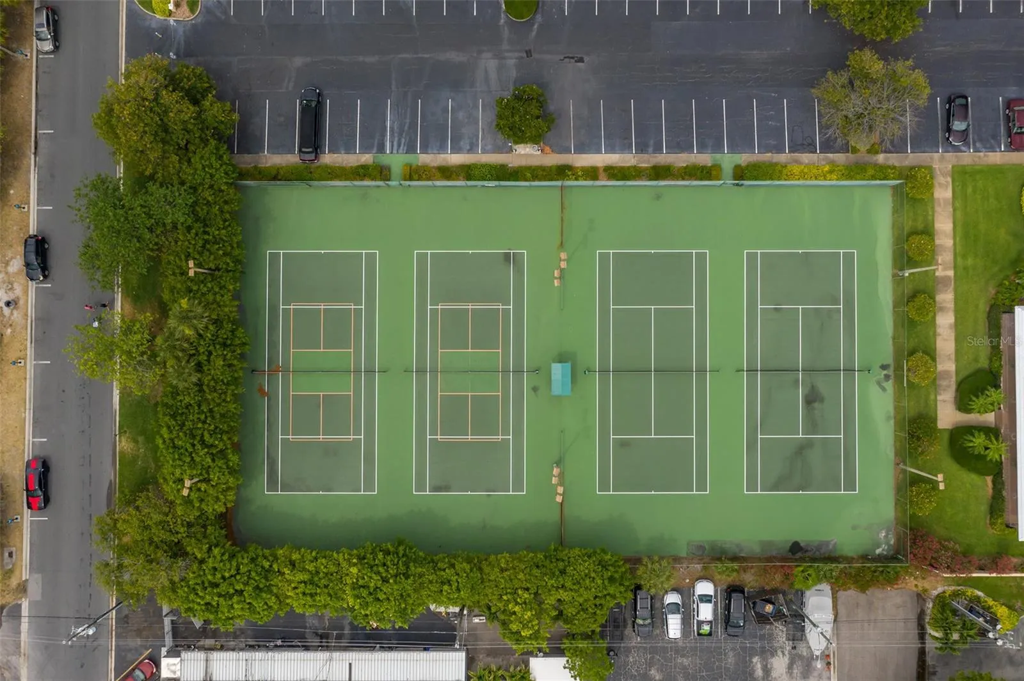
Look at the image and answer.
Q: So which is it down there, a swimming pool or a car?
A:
car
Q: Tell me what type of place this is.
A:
sports ground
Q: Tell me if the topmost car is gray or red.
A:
gray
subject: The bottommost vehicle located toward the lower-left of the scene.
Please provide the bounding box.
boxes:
[123,661,157,681]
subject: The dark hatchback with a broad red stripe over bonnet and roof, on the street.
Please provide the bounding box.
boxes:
[25,459,52,508]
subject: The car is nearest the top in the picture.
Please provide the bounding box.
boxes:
[34,5,61,53]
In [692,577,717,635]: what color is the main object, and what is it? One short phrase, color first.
white truck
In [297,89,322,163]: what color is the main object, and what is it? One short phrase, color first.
black vehicle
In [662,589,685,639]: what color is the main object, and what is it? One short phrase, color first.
white car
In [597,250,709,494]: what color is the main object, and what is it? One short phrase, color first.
green tennis court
